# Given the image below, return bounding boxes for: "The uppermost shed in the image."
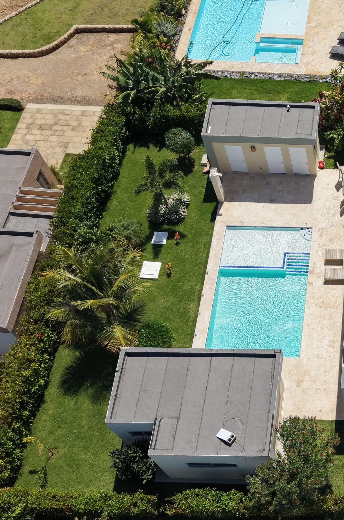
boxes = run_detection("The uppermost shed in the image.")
[201,99,331,173]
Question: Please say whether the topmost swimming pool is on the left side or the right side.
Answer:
right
